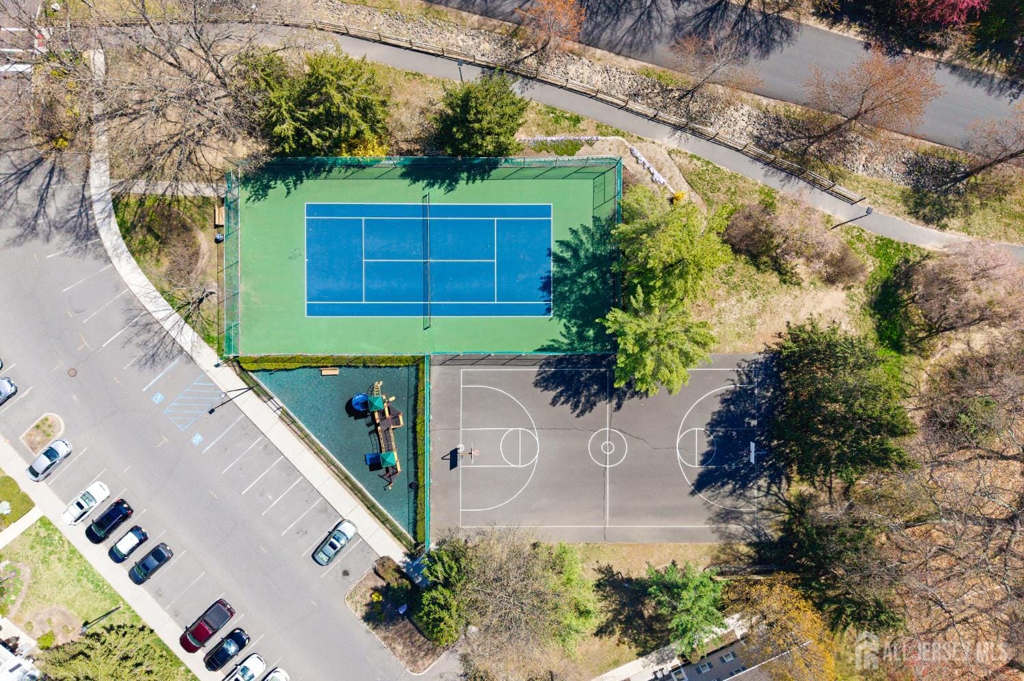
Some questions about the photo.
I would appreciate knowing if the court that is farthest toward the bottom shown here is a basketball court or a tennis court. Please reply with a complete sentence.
The court that is farthest toward the bottom can be classified as a basketball court.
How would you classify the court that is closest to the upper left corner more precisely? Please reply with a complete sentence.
The court that is closest to the upper left corner can be classified as a tennis court.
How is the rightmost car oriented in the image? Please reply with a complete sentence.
The rightmost car runs diagonally in the image.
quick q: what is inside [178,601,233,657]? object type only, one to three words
truck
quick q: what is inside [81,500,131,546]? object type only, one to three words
car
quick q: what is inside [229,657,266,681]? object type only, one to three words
car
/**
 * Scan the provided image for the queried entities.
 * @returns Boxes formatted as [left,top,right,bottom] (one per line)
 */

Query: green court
[239,167,616,354]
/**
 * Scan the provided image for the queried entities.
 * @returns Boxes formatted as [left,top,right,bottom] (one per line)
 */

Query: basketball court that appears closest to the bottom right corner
[427,352,779,544]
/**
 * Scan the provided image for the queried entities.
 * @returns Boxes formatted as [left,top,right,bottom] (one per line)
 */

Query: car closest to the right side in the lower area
[311,522,356,570]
